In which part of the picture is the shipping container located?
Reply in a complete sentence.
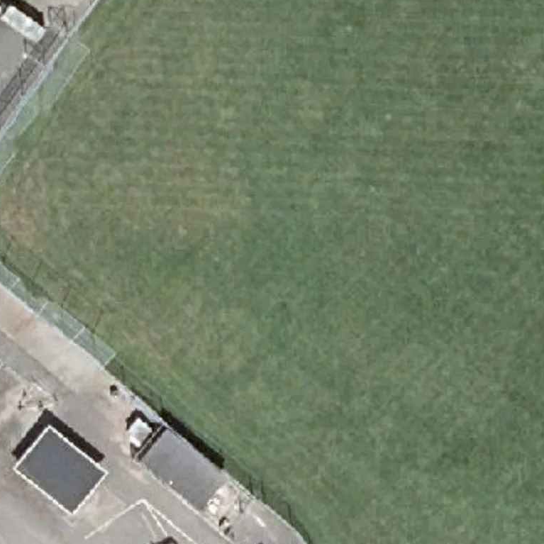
The shipping container is in the top left part of the image.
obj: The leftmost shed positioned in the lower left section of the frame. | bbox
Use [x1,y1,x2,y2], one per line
[14,424,107,515]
